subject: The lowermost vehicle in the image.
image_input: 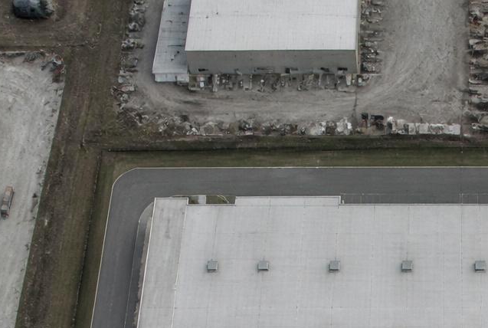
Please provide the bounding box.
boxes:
[1,186,14,218]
